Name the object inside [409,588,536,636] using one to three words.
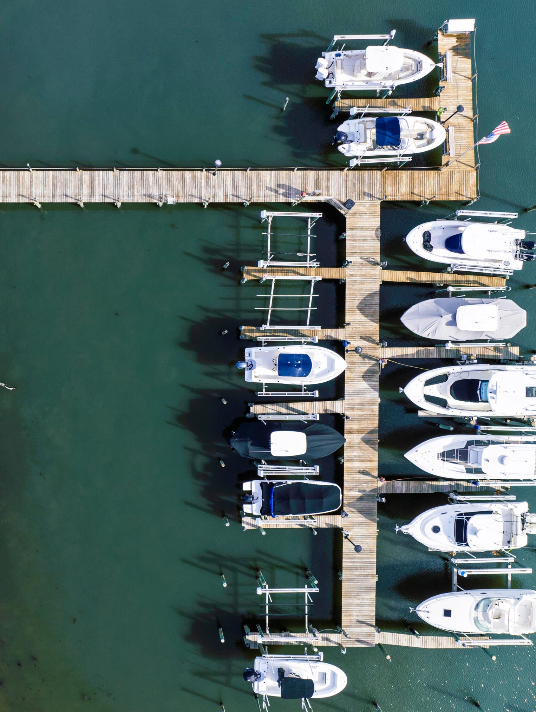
boat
